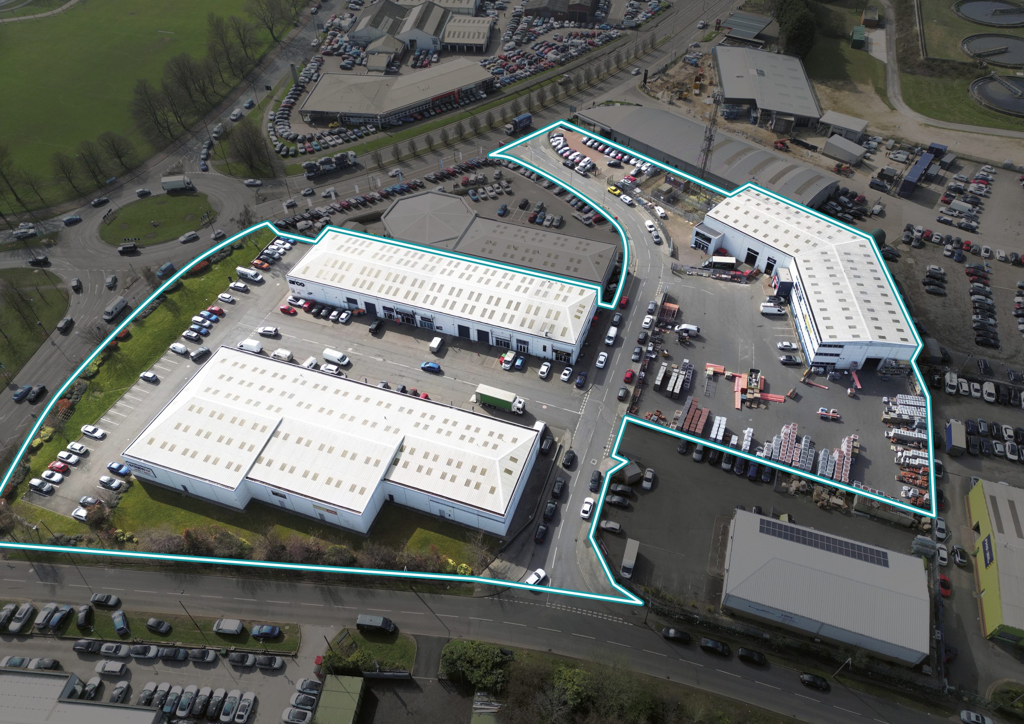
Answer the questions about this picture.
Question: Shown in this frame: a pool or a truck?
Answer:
truck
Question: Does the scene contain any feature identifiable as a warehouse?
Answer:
Yes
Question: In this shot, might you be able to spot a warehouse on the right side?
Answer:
Yes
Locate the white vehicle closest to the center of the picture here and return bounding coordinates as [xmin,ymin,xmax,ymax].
[503,350,515,368]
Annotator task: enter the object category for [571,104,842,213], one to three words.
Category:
building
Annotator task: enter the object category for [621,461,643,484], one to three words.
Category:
shed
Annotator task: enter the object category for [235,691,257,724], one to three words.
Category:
car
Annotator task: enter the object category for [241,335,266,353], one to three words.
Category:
vehicle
